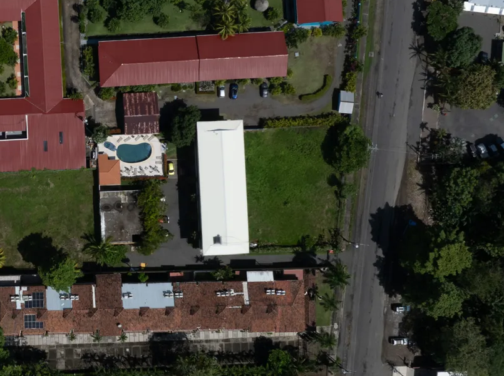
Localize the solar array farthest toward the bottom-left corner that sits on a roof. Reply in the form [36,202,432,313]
[25,315,43,329]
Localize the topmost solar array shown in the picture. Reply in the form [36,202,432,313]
[25,292,43,308]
